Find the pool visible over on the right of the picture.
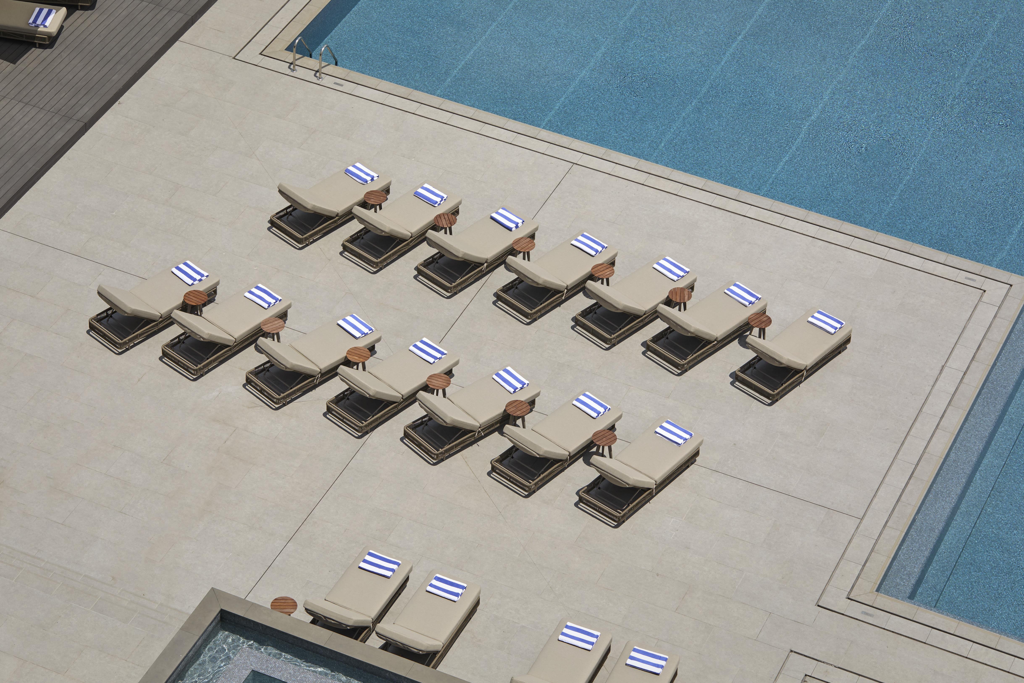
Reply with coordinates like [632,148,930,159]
[285,0,1024,643]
